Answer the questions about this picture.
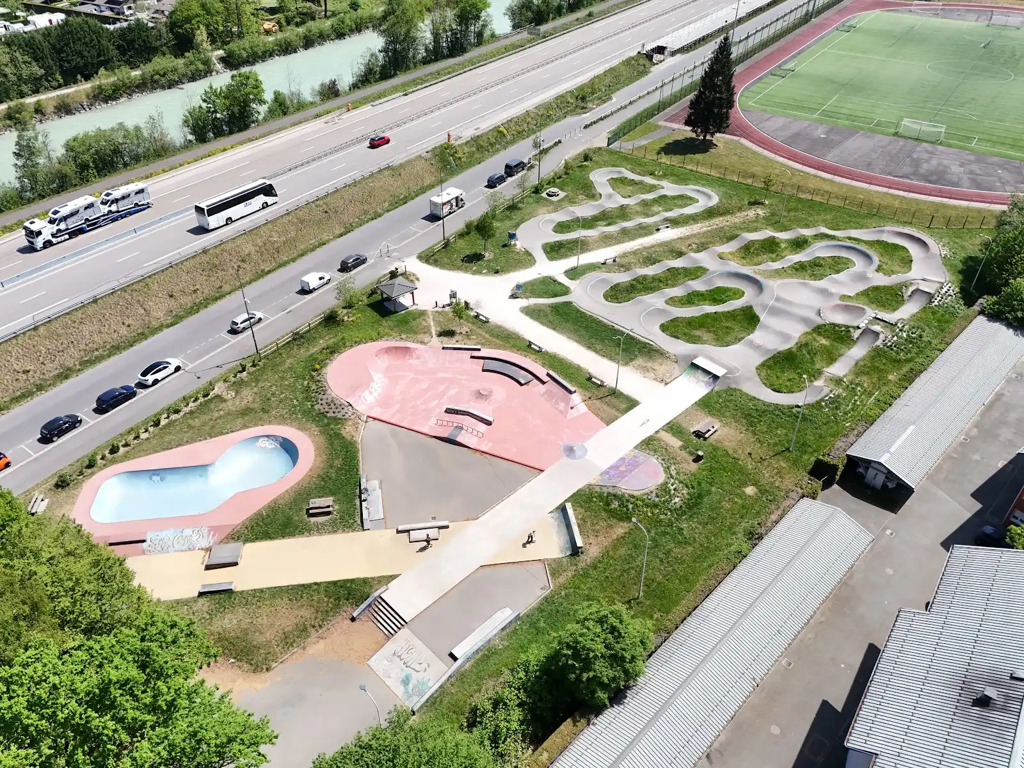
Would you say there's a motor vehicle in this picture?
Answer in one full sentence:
Yes, a motor vehicle can be made out from above.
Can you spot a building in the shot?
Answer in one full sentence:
Yes, there's a building here.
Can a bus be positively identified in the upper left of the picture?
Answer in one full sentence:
Yes, the scene does show a bus in the upper left of the picture.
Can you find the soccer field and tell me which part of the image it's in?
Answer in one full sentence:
The soccer field appears toward the top right of the photo.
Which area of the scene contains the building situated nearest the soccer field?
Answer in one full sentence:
The building situated nearest the soccer field is located in the right region of the scene.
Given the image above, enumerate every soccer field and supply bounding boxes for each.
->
[738,10,1024,159]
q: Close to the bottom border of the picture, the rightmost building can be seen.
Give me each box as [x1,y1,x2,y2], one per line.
[827,542,1024,768]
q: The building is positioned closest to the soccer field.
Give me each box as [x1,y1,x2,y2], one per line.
[843,307,1024,505]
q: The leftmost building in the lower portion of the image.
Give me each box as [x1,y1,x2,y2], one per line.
[544,498,872,768]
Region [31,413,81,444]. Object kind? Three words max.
car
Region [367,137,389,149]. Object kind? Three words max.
vehicle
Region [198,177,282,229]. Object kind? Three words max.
bus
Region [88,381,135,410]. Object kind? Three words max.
car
